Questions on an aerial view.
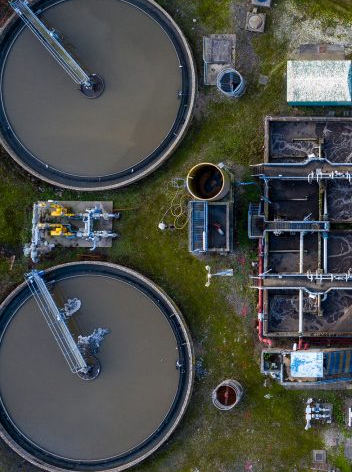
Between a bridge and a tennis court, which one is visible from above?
bridge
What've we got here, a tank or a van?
tank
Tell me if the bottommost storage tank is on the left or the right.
left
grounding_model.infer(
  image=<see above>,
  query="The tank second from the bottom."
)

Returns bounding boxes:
[188,201,234,257]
